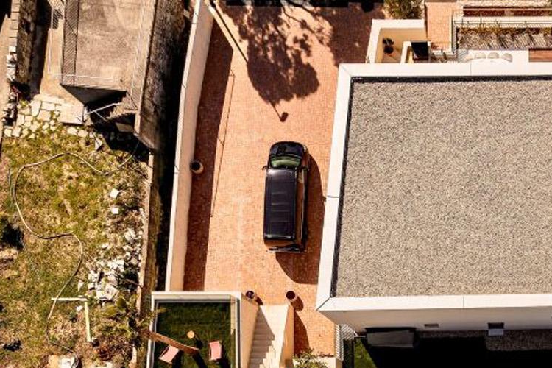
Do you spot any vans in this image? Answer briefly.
Yes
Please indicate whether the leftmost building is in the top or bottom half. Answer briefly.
top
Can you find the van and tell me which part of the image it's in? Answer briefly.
center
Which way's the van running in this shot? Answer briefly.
from top to bottom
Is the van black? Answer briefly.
Yes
